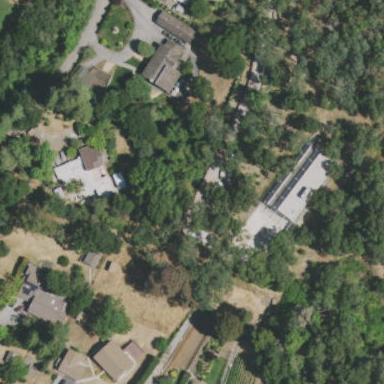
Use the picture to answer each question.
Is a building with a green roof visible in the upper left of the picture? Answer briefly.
No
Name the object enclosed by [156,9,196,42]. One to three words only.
building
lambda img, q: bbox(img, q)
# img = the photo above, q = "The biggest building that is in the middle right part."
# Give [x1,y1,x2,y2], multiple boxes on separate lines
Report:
[278,153,330,222]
